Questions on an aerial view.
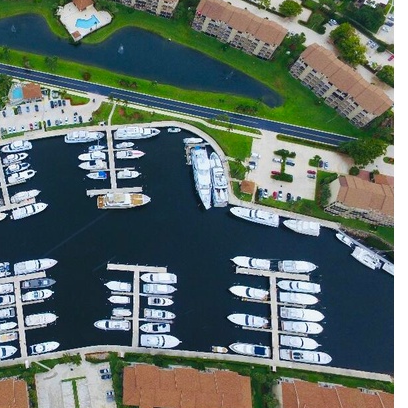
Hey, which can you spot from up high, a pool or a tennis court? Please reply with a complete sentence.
This aerial view contains a pool.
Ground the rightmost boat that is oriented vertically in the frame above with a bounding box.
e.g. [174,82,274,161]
[209,152,228,210]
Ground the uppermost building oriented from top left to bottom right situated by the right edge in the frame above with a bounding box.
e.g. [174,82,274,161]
[290,42,392,127]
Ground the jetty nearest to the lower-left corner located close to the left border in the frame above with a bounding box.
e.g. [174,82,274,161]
[0,271,47,358]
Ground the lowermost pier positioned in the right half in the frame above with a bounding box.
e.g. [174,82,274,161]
[236,268,311,359]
